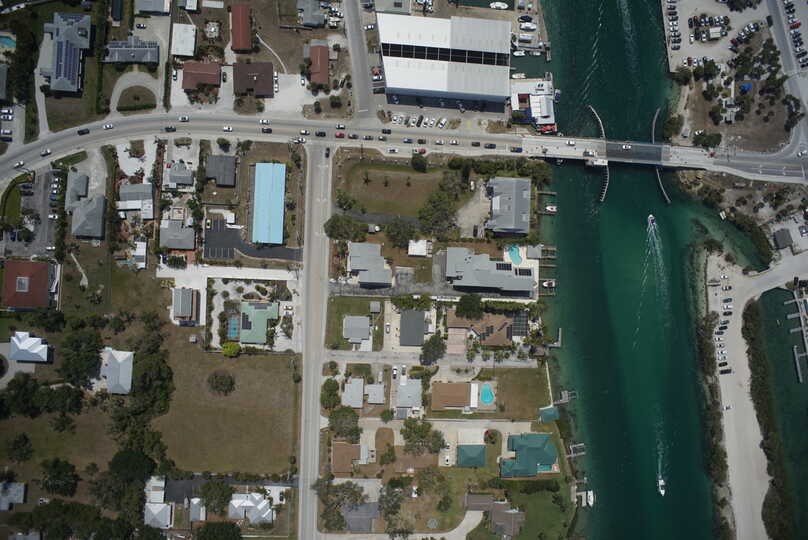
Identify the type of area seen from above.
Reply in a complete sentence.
This image shows a residential area.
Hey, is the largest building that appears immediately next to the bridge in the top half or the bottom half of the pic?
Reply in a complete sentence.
The largest building that appears immediately next to the bridge is in the top half of the image.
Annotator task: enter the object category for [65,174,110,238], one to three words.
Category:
house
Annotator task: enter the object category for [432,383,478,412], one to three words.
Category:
house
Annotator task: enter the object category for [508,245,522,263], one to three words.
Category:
swimming pool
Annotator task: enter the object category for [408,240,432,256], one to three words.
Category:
building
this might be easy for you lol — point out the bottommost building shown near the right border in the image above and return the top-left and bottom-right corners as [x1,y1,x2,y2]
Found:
[768,230,793,249]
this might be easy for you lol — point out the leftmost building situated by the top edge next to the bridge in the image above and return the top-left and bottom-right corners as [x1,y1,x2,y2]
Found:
[377,13,511,104]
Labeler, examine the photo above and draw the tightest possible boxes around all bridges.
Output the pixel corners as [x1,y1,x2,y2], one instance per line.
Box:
[522,135,718,167]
